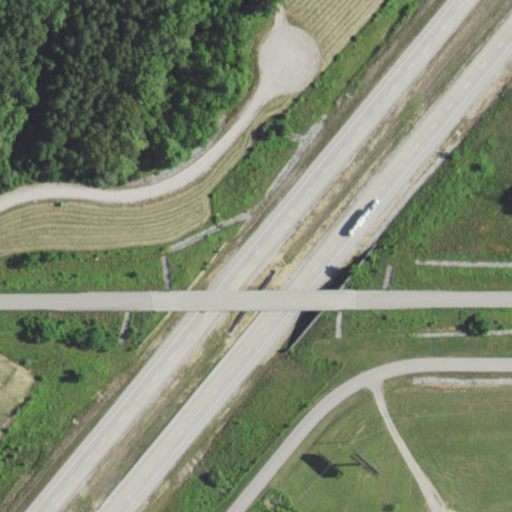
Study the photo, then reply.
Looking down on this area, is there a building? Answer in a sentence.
No, no building can be seen from above.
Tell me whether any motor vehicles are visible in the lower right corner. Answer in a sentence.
No, no motor vehicle can be made out in the lower right corner.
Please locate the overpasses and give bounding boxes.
[137,239,384,354]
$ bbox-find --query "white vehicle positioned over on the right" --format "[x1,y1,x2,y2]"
[350,200,380,236]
